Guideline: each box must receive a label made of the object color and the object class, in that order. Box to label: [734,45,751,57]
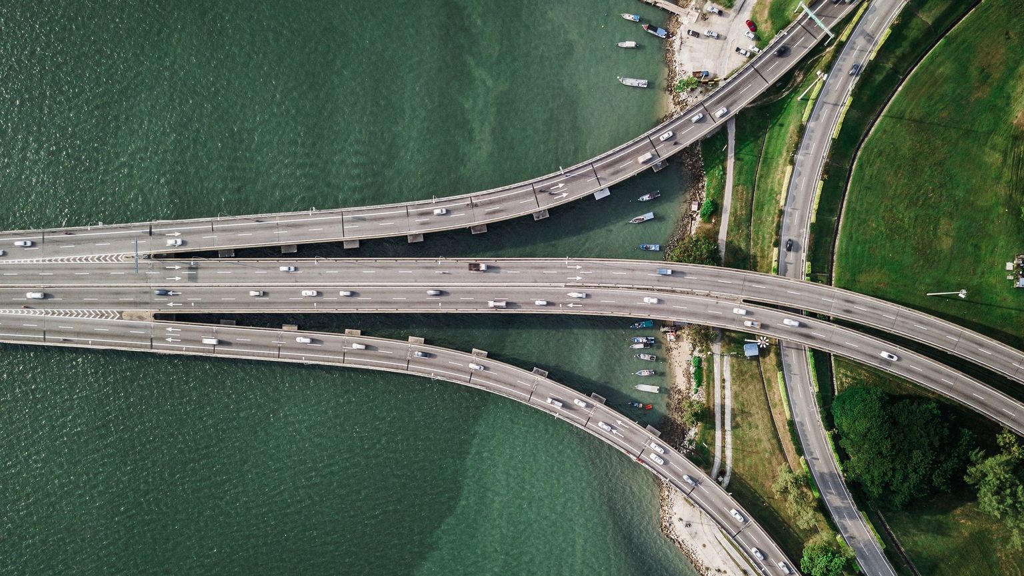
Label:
white vehicle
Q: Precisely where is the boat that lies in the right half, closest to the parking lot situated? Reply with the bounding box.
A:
[643,24,668,37]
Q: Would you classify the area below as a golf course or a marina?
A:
marina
